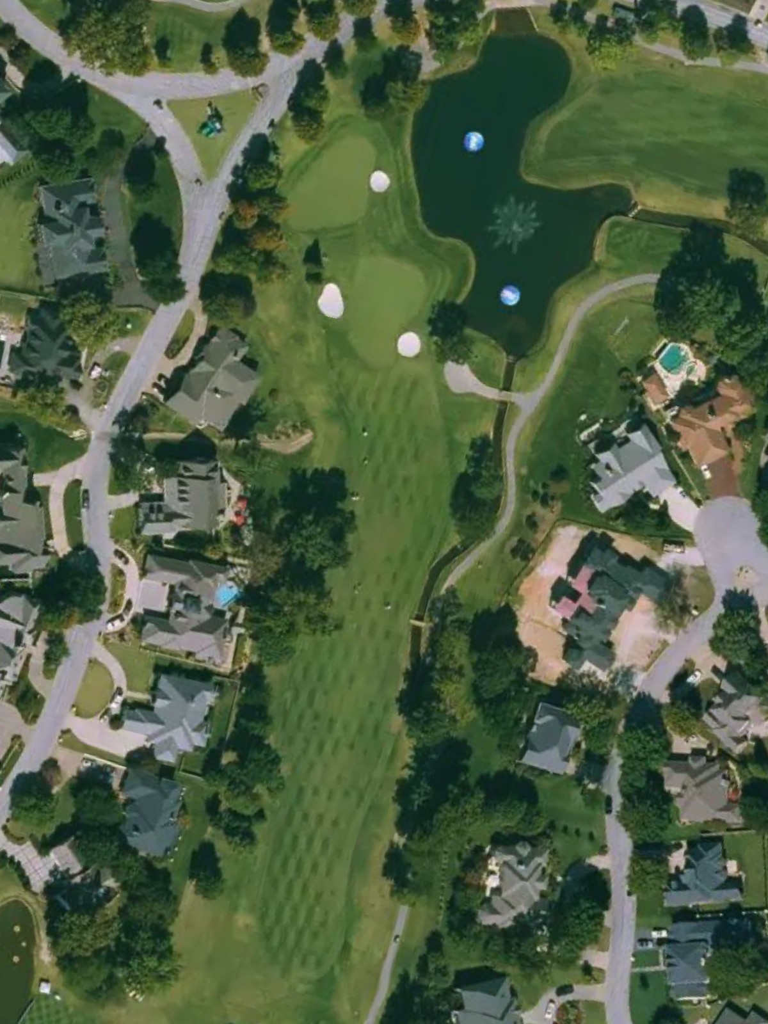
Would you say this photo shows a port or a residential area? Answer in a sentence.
The picture captures a residential area.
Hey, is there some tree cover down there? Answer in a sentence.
Yes, tree cover can be seen from above here.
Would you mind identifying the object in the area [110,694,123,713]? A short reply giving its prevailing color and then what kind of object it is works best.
white vehicle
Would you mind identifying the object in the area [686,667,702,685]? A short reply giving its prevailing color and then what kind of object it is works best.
white car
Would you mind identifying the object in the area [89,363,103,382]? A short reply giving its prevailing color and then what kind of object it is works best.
white car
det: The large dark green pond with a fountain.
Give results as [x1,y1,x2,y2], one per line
[411,9,635,362]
